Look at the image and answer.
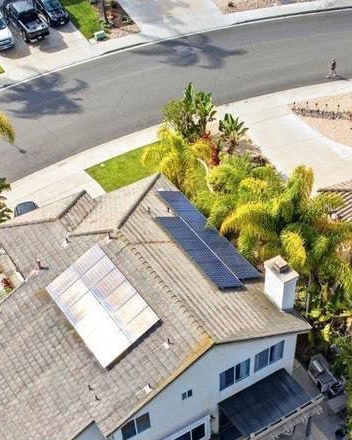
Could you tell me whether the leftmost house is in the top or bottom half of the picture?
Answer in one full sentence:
The bottom half of the photo is where the leftmost house is.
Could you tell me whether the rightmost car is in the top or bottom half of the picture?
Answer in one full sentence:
It is in the top half that the rightmost car appears.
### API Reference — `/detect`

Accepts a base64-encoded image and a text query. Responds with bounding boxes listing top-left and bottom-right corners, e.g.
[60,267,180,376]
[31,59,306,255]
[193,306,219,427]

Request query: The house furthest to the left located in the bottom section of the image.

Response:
[0,172,314,440]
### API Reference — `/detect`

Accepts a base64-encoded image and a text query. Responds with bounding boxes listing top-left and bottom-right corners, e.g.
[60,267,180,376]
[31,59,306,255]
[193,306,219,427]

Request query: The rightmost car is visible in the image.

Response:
[31,0,69,26]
